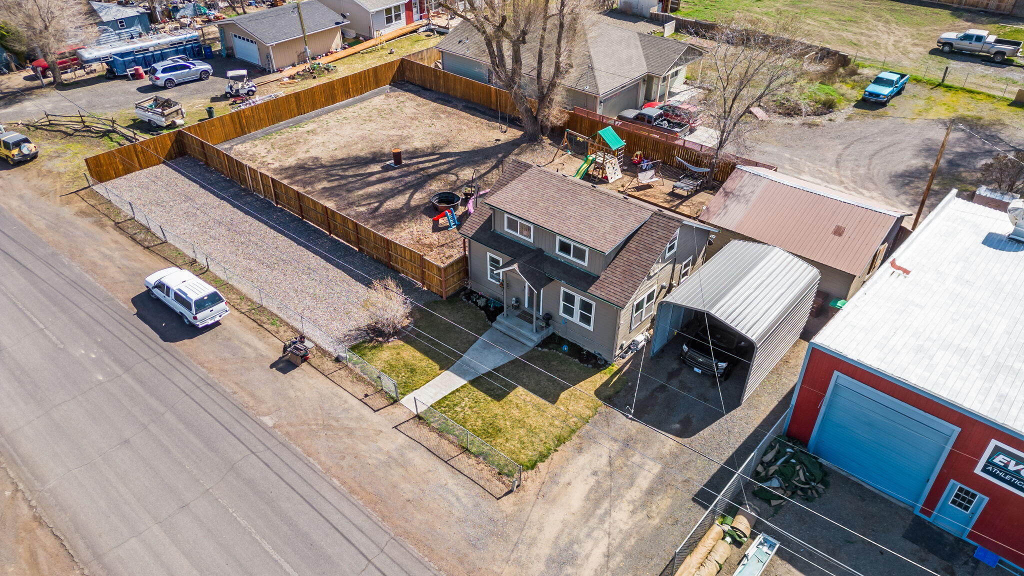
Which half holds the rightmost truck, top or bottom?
top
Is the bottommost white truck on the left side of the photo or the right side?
left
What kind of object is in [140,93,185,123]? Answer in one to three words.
trailer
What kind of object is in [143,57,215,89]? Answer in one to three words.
car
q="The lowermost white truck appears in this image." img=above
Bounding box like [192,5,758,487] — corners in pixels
[139,261,233,326]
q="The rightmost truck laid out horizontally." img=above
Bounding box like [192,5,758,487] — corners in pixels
[932,28,1024,62]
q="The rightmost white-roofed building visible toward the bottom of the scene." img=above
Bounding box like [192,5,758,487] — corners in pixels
[780,189,1024,568]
